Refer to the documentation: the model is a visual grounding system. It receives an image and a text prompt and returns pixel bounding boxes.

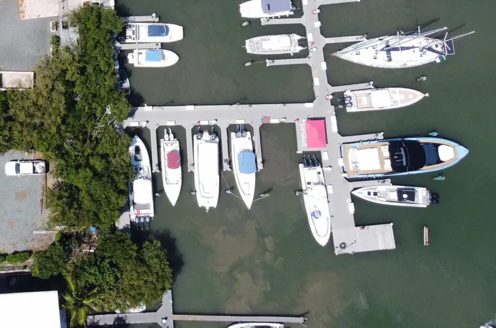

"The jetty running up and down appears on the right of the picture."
[261,0,396,254]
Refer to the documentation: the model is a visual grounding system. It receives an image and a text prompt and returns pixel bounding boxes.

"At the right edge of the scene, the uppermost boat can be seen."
[329,23,473,69]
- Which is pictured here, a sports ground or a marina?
marina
